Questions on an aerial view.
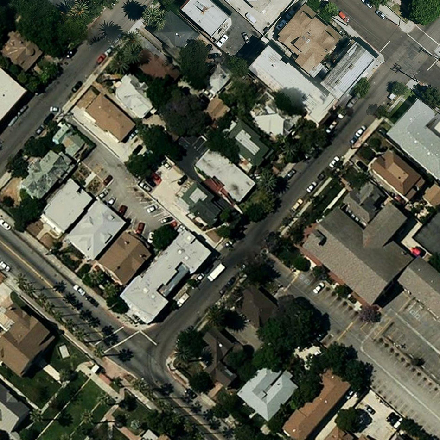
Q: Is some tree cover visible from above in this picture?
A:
Yes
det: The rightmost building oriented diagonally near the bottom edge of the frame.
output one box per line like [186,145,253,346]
[282,368,350,440]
